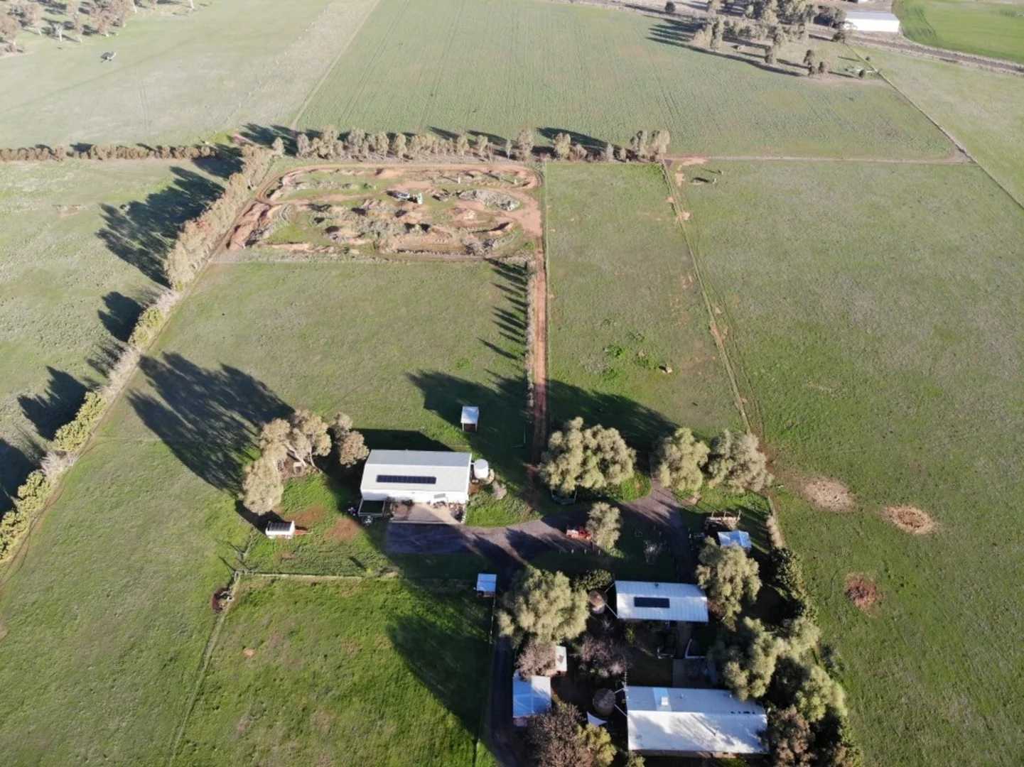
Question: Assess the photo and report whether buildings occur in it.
Yes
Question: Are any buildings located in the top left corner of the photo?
No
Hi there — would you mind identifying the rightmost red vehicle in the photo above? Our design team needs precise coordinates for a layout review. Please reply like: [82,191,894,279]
[562,524,589,541]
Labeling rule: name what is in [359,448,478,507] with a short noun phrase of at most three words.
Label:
barn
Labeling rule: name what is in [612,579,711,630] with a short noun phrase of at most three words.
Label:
house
